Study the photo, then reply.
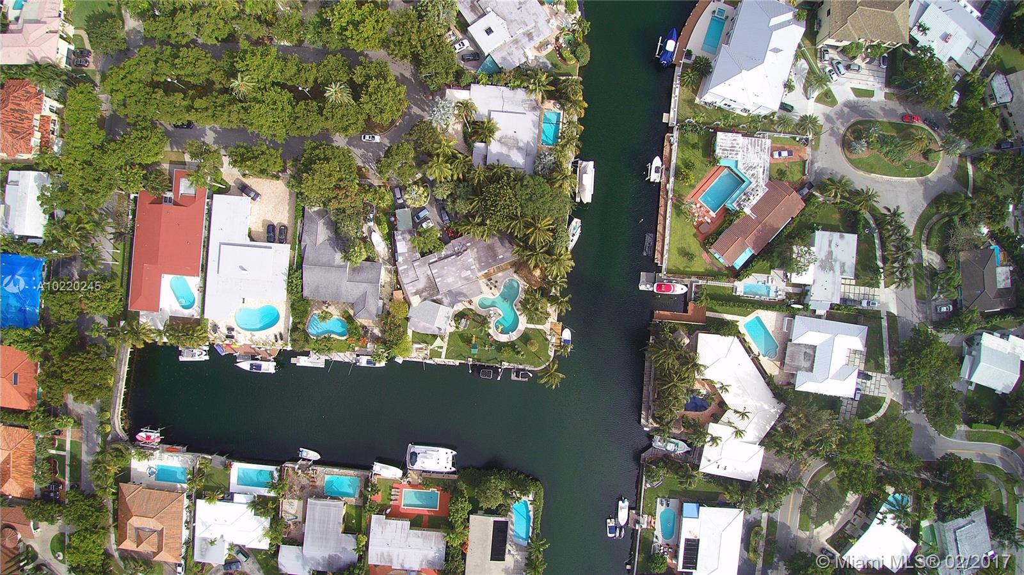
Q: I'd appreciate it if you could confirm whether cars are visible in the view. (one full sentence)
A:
Yes, there's a car here.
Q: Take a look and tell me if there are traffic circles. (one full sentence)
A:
Yes, the image includes a traffic circle.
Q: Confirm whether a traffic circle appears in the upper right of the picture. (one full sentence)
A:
Yes, the scene does show a traffic circle in the upper right of the picture.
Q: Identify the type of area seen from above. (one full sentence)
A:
This image shows a residential area.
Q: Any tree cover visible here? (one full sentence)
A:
Yes, some tree cover is visible.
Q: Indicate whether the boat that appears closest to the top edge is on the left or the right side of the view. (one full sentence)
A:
The boat that appears closest to the top edge appears in the right half of the scene.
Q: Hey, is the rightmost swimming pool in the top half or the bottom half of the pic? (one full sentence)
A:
The rightmost swimming pool sits in the bottom half of the picture.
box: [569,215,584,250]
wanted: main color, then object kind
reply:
white boat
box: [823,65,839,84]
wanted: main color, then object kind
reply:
white car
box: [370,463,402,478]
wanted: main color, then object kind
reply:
white boat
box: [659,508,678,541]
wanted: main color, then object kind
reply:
blue swimming pool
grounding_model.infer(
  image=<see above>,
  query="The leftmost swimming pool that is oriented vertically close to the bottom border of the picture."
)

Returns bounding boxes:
[511,498,532,547]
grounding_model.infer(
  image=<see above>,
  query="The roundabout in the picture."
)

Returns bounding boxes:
[844,122,941,176]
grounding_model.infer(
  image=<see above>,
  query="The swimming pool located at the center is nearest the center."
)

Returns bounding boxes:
[477,275,522,336]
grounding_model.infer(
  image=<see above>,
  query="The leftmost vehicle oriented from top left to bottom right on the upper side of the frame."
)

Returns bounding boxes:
[238,181,260,200]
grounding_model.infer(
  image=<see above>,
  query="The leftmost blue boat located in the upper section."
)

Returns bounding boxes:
[656,29,676,69]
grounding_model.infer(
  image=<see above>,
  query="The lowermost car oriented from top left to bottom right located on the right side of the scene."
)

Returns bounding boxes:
[818,545,838,561]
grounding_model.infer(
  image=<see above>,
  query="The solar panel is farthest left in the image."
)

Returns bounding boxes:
[489,520,509,562]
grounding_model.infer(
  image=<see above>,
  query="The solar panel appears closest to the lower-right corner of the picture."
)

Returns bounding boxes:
[682,538,699,569]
